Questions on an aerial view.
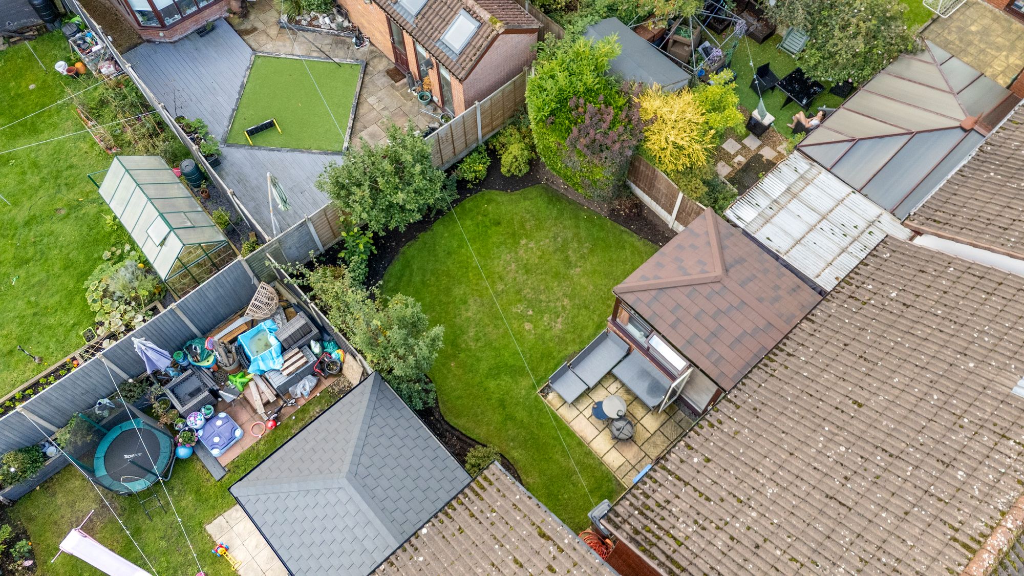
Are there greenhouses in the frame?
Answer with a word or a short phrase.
Yes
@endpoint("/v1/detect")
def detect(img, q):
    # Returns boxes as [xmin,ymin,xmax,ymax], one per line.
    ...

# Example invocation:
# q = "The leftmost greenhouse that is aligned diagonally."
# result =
[87,154,248,300]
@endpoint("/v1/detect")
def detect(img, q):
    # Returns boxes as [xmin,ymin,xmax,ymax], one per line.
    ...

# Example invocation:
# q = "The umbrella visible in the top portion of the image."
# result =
[262,170,301,242]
